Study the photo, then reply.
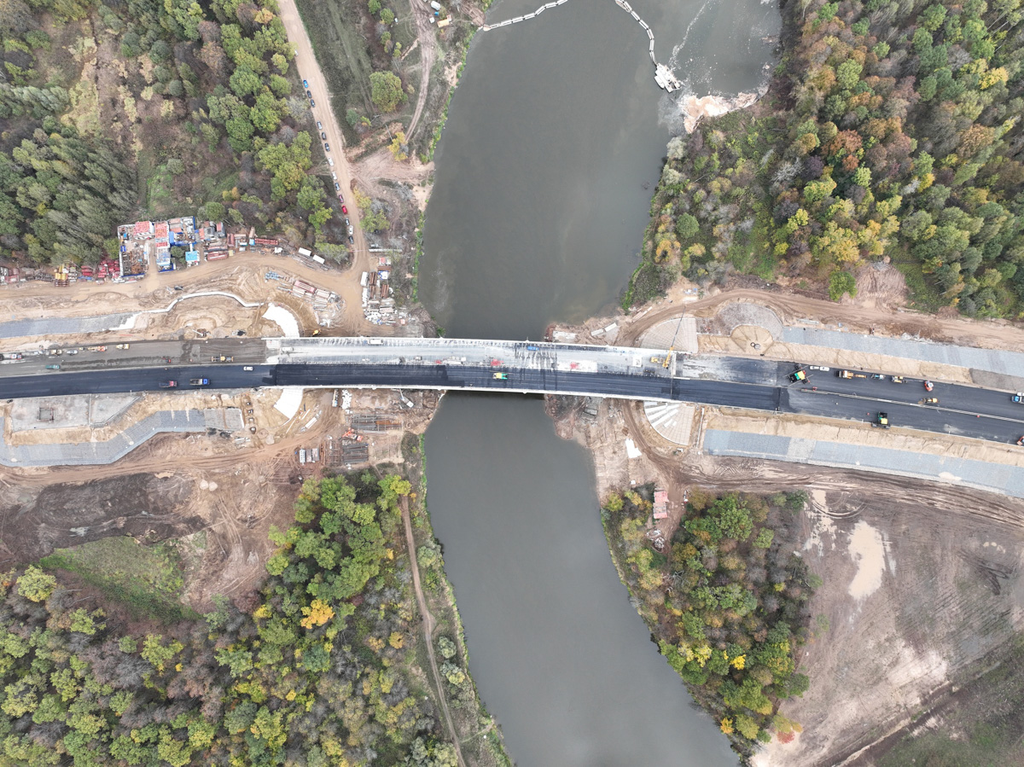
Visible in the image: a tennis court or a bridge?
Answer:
bridge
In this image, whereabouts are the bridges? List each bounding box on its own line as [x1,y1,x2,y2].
[259,332,694,408]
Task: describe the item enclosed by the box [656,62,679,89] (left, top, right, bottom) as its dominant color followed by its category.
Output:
white ship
